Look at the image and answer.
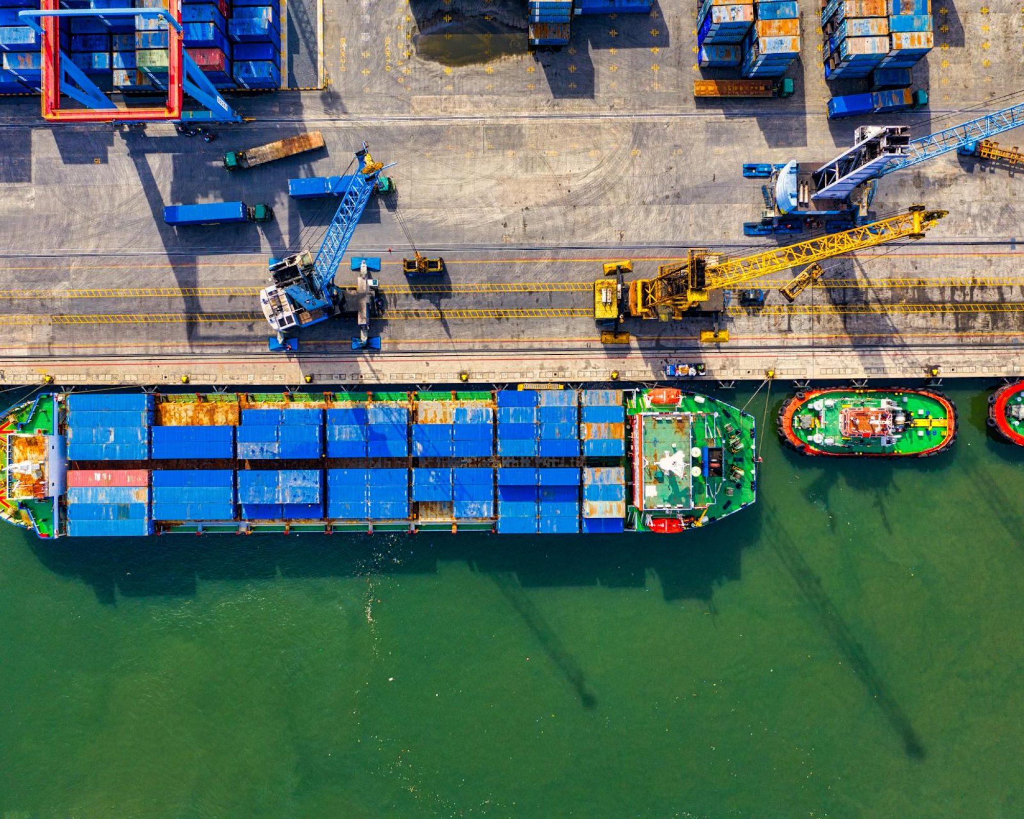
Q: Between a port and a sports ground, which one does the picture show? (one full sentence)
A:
What you see here is a port.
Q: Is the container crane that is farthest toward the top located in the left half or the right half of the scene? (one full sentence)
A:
The container crane that is farthest toward the top sits on the left side.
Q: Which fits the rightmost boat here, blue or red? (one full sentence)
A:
In this view, the rightmost boat is red.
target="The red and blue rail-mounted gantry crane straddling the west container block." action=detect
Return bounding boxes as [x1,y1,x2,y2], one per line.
[17,0,258,127]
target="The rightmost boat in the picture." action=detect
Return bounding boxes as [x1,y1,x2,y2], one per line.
[985,383,1024,442]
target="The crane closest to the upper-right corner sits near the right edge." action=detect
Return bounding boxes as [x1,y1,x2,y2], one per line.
[742,94,1024,236]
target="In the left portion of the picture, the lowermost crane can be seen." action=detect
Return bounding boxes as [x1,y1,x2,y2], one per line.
[261,140,423,351]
